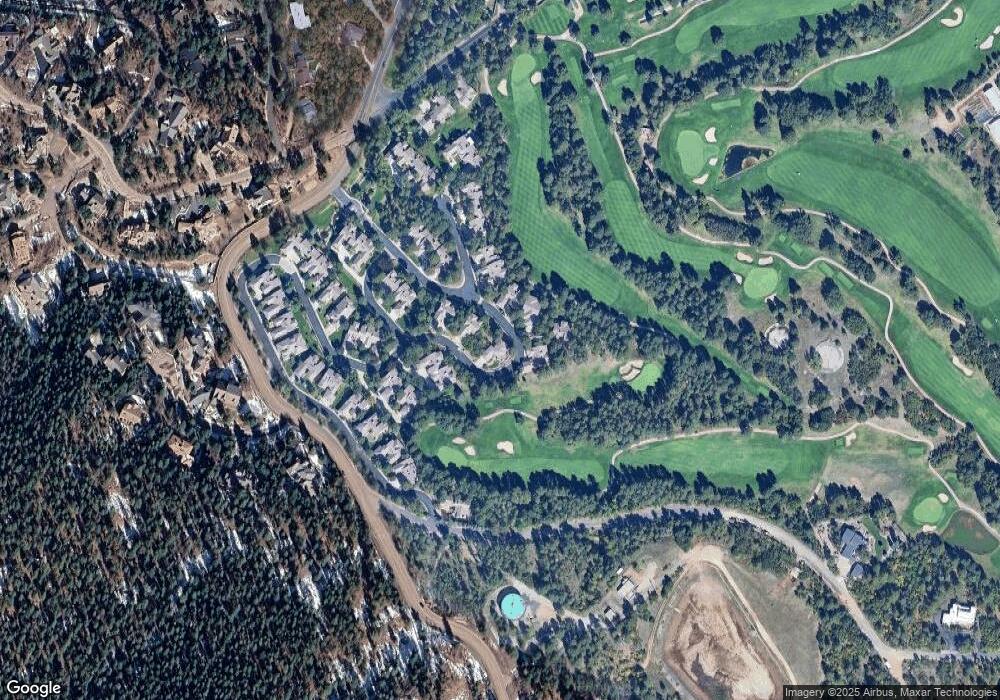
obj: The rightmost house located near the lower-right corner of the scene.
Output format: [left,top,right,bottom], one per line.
[944,601,977,624]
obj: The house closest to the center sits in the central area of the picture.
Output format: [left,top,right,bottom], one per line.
[479,336,513,371]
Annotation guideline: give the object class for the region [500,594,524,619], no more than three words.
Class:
water tank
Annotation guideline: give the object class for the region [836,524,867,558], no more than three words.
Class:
house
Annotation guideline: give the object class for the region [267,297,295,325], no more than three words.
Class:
house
